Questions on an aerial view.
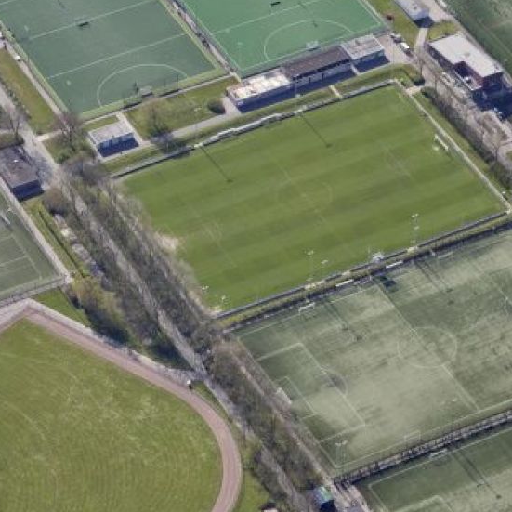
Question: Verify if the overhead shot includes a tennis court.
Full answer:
No, I can't see a single tennis court in this photo.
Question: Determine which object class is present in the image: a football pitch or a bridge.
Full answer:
I can see a football pitch in this picture.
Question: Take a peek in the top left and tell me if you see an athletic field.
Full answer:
Yes, in the top left there is an athletic field.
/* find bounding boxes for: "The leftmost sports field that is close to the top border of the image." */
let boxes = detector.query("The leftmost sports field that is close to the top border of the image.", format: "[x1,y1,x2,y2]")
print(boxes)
[0,0,227,123]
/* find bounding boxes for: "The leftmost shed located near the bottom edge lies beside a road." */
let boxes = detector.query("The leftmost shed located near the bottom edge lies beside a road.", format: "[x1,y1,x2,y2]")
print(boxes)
[310,488,334,511]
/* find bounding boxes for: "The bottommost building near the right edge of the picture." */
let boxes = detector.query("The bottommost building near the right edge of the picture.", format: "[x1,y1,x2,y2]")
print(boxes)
[428,29,510,99]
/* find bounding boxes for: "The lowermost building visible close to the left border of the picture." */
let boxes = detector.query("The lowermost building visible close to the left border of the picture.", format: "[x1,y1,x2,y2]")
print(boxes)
[0,145,41,195]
